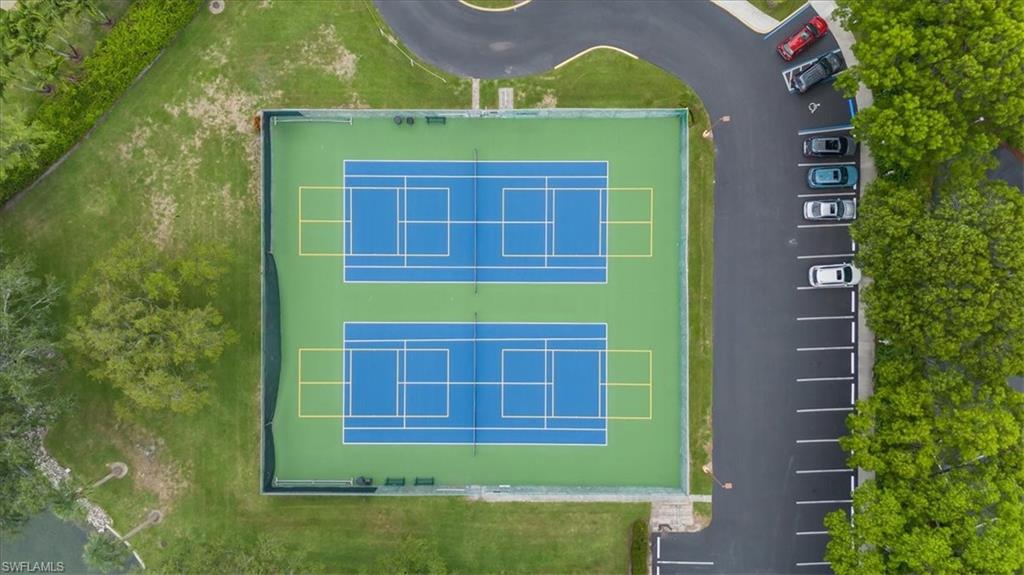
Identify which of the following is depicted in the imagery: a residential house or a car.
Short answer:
car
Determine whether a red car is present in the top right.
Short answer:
Yes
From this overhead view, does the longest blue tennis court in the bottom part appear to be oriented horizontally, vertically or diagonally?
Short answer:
horizontally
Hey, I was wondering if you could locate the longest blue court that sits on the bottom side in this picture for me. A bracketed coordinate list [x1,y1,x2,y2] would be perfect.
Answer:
[342,322,608,445]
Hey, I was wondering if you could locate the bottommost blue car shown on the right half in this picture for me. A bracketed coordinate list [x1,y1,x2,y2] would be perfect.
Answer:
[809,163,861,188]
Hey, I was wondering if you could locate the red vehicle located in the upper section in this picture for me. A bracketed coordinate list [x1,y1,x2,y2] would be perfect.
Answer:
[779,16,830,59]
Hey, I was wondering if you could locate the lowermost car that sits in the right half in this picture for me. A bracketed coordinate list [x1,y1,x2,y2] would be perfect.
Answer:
[810,262,864,287]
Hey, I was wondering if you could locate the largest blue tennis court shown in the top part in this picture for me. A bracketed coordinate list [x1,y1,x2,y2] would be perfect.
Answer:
[343,160,609,284]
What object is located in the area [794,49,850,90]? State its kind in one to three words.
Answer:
car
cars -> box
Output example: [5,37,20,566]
[809,163,861,188]
[810,262,864,287]
[805,132,859,157]
[805,196,859,220]
[794,49,850,90]
[779,16,830,59]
